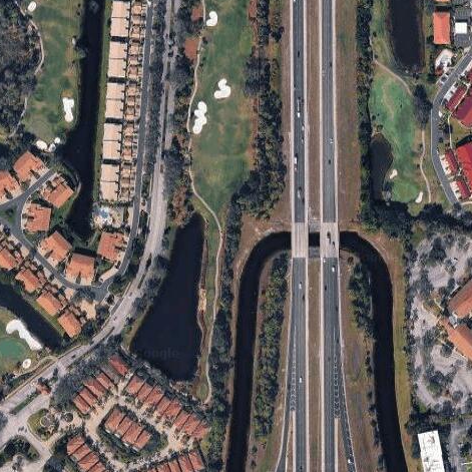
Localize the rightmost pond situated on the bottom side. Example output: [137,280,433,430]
[133,213,202,380]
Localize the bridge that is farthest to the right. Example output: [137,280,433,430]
[320,222,338,257]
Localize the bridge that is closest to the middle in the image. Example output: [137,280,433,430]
[291,222,308,257]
